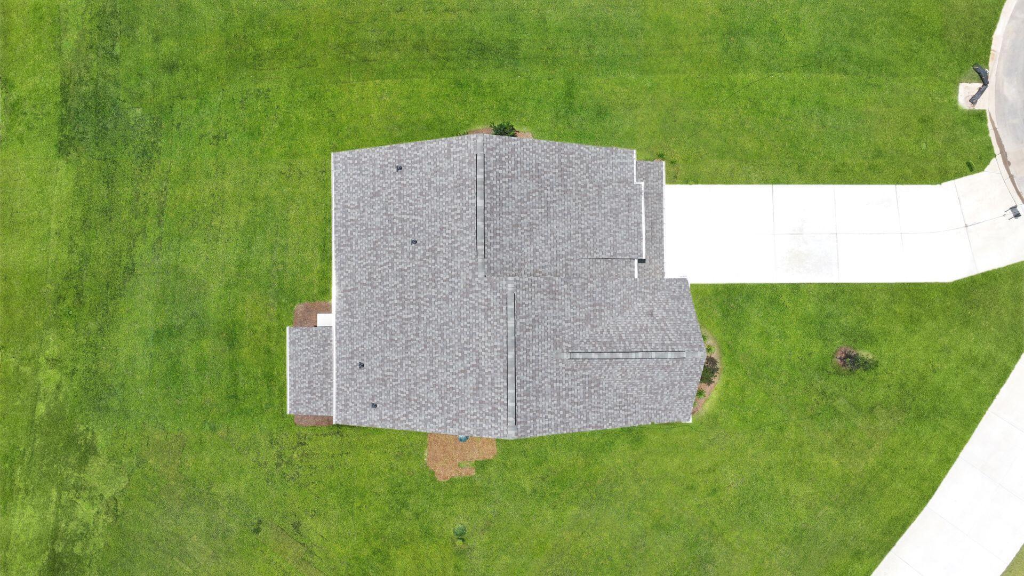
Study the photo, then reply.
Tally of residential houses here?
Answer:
one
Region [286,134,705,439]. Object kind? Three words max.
house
